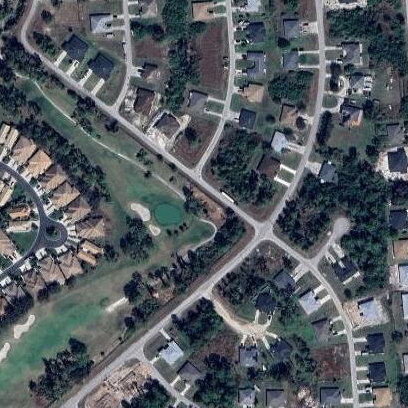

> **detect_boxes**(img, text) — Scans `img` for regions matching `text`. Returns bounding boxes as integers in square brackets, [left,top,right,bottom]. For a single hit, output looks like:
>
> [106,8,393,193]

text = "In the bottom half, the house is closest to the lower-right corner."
[374,387,391,406]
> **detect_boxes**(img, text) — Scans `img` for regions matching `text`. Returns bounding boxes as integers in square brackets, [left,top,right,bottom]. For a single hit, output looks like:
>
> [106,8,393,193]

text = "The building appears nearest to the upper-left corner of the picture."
[61,31,90,58]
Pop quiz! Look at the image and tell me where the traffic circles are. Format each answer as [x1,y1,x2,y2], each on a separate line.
[39,219,67,248]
